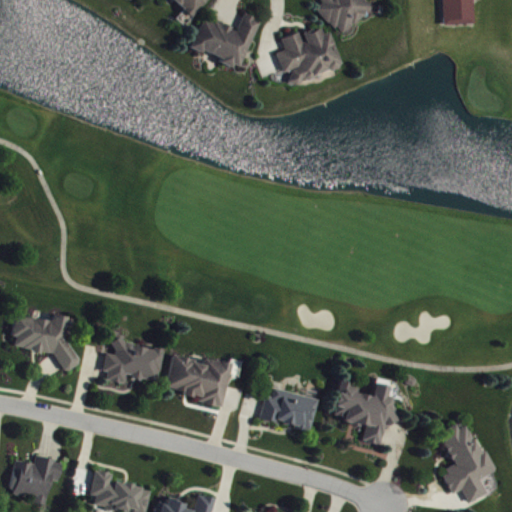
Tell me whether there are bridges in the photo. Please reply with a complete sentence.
No, there isn't any bridge down there.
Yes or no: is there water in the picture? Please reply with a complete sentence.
Yes, there is water in the image.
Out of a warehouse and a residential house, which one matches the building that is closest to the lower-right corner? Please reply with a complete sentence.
In the photo, the building that is closest to the lower-right corner shows up as a residential house.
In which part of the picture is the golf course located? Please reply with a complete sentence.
The golf course is located in the center region of the scene.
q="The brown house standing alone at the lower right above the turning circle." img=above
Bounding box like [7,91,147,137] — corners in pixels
[442,418,496,501]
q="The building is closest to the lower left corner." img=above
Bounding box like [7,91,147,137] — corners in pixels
[8,456,64,506]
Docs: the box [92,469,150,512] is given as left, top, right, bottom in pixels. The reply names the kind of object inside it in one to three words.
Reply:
house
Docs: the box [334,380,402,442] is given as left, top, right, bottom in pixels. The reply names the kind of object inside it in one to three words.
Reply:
house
